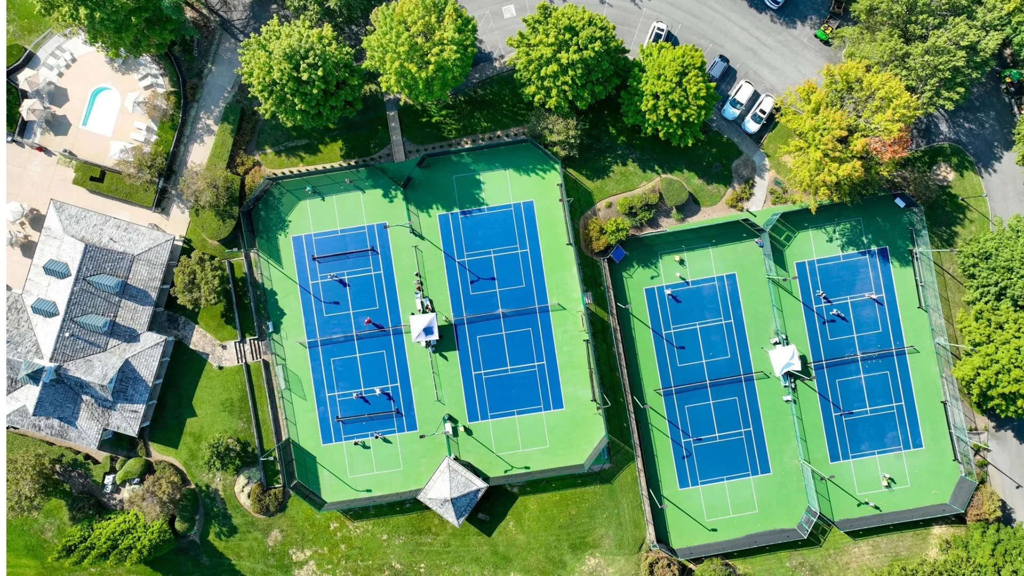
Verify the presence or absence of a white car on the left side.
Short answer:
No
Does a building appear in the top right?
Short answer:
No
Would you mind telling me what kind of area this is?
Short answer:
sports ground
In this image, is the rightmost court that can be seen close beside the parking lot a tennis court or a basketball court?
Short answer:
tennis court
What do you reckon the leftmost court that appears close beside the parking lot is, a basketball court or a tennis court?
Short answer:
tennis court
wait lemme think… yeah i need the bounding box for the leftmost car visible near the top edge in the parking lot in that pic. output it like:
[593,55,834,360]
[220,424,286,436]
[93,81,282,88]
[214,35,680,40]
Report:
[636,17,667,61]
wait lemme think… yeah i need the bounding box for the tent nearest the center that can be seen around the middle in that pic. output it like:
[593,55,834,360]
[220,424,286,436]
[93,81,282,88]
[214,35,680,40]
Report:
[410,312,440,342]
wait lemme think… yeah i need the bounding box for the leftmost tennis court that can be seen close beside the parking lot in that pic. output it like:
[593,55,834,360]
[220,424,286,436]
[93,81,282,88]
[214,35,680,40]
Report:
[252,162,449,501]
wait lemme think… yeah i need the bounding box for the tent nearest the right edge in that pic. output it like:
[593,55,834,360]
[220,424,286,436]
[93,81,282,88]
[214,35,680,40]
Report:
[762,343,801,376]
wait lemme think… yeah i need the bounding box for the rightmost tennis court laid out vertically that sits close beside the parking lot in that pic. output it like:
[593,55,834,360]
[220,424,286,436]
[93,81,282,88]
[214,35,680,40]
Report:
[763,192,961,522]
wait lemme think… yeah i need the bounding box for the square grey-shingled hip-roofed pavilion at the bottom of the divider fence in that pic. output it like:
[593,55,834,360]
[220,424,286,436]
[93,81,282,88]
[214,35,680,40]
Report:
[417,451,489,528]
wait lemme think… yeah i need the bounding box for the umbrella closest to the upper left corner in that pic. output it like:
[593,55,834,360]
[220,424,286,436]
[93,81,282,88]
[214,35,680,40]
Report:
[19,69,43,93]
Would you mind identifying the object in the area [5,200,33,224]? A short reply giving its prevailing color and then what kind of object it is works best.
white umbrella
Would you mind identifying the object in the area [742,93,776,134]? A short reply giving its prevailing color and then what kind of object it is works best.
white car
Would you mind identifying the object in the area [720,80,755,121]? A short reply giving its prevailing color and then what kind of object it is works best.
white car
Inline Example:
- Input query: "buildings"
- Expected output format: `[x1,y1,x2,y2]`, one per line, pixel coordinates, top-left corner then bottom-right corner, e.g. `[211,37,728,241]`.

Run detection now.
[0,198,190,451]
[417,451,489,528]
